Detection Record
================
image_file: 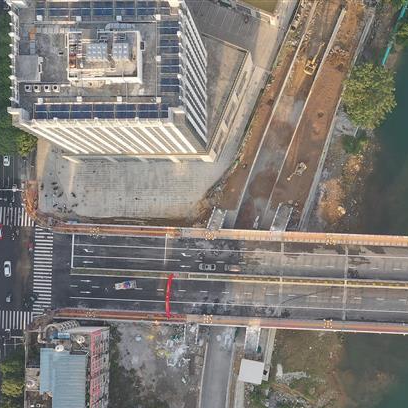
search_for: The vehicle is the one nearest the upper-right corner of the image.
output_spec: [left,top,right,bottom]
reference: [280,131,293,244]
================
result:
[303,47,321,73]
